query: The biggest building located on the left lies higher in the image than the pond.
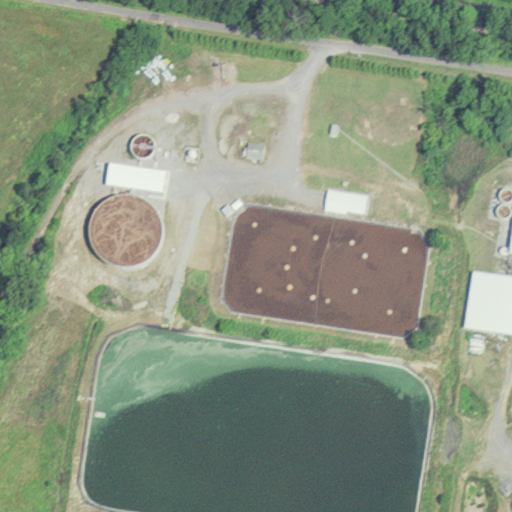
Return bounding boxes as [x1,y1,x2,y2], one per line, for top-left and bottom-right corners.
[105,163,168,192]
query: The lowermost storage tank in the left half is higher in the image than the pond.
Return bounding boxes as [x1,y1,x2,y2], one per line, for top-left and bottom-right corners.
[89,192,164,268]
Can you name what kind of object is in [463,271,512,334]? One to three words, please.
building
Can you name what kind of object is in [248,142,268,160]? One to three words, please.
house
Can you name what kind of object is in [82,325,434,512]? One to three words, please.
pond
